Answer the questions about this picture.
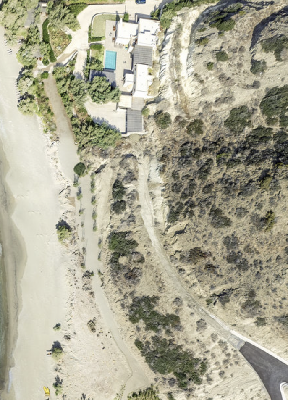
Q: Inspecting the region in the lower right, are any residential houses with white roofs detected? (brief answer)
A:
No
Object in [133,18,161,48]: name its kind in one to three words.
house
